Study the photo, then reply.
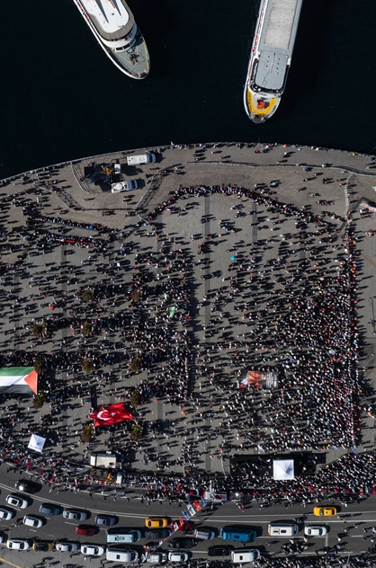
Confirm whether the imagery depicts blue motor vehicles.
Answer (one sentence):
Yes, a blue motor vehicle can be made out from above.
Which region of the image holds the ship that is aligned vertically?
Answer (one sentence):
The ship that is aligned vertically is located in the top right region of the scene.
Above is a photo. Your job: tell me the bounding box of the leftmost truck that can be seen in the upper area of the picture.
[81,158,122,188]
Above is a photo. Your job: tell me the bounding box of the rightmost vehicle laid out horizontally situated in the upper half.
[124,152,157,165]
